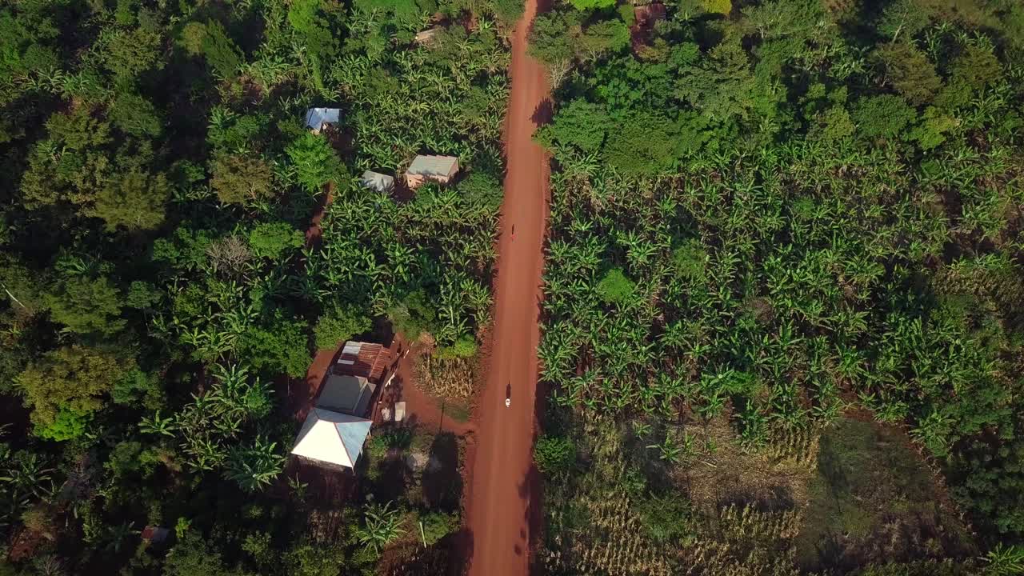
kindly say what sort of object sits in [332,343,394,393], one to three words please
house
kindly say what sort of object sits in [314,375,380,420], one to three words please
house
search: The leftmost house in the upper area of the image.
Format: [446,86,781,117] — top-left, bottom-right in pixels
[306,108,340,136]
